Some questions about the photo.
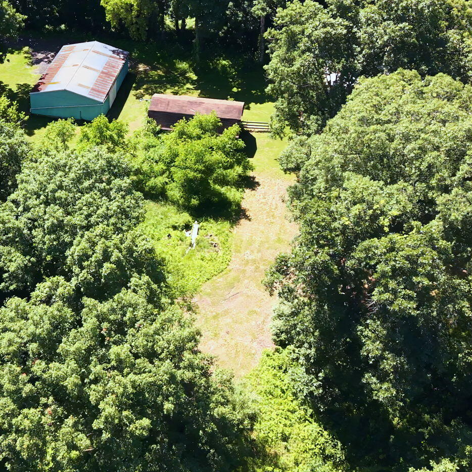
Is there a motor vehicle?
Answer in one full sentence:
No, there appears to be no motor vehicle in this shot.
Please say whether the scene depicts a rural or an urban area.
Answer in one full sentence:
This place is rural.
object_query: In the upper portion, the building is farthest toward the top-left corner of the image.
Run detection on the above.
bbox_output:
[28,40,129,119]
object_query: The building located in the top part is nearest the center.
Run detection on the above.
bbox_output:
[149,93,245,135]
